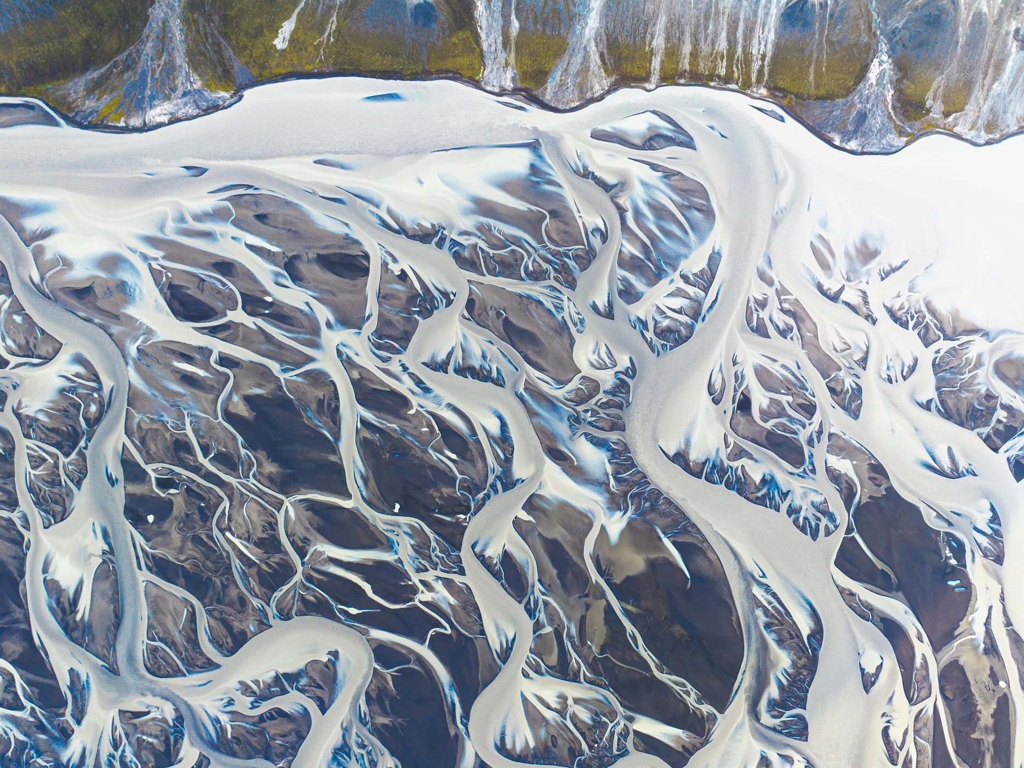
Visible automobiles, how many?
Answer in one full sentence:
Not a single automobile can be seen.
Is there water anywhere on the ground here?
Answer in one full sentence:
Yes, the picture does contain water.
